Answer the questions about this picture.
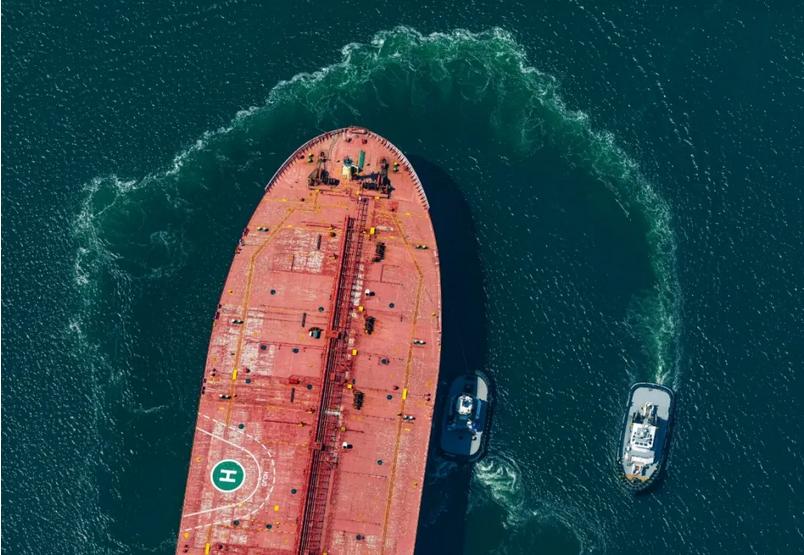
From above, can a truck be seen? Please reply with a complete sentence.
No, I can see no truck in this picture.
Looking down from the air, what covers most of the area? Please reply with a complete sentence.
The scene is dominated by water.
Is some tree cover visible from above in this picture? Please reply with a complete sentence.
No, no tree cover is visible.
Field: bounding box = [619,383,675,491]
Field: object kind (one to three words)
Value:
boat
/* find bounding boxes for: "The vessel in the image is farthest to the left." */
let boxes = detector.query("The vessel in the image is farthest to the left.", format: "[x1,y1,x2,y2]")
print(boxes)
[177,126,442,555]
